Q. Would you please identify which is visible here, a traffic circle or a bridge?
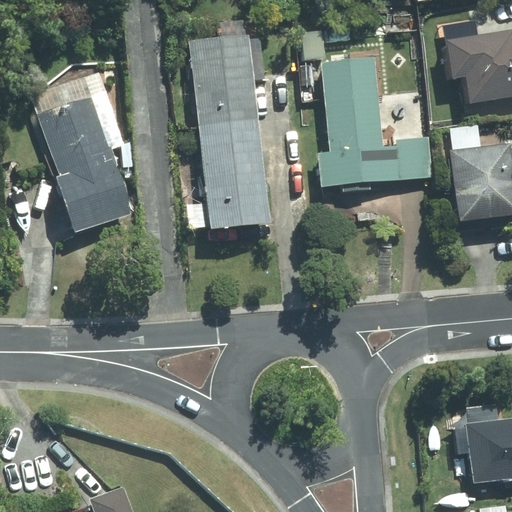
traffic circle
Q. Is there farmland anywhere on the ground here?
No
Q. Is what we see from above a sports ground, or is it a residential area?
residential area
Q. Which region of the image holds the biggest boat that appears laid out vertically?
left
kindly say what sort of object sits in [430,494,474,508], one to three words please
boat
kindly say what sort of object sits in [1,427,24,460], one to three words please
car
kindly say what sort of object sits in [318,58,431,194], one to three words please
house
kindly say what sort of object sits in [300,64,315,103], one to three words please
vehicle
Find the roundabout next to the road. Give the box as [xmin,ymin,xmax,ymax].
[250,357,342,447]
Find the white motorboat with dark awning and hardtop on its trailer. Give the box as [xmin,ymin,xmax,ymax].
[10,188,30,239]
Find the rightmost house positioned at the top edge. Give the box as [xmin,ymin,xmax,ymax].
[440,22,512,110]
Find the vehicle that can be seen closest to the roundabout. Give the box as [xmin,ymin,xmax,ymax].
[174,396,202,416]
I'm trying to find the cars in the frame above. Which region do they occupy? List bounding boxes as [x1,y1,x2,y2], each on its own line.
[1,427,24,460]
[209,228,237,242]
[290,164,304,192]
[46,440,73,468]
[35,454,53,486]
[4,462,22,491]
[487,334,512,348]
[174,396,202,416]
[256,86,268,116]
[496,4,512,20]
[285,132,300,162]
[258,223,270,245]
[496,242,512,255]
[22,460,36,490]
[274,76,288,106]
[74,466,102,494]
